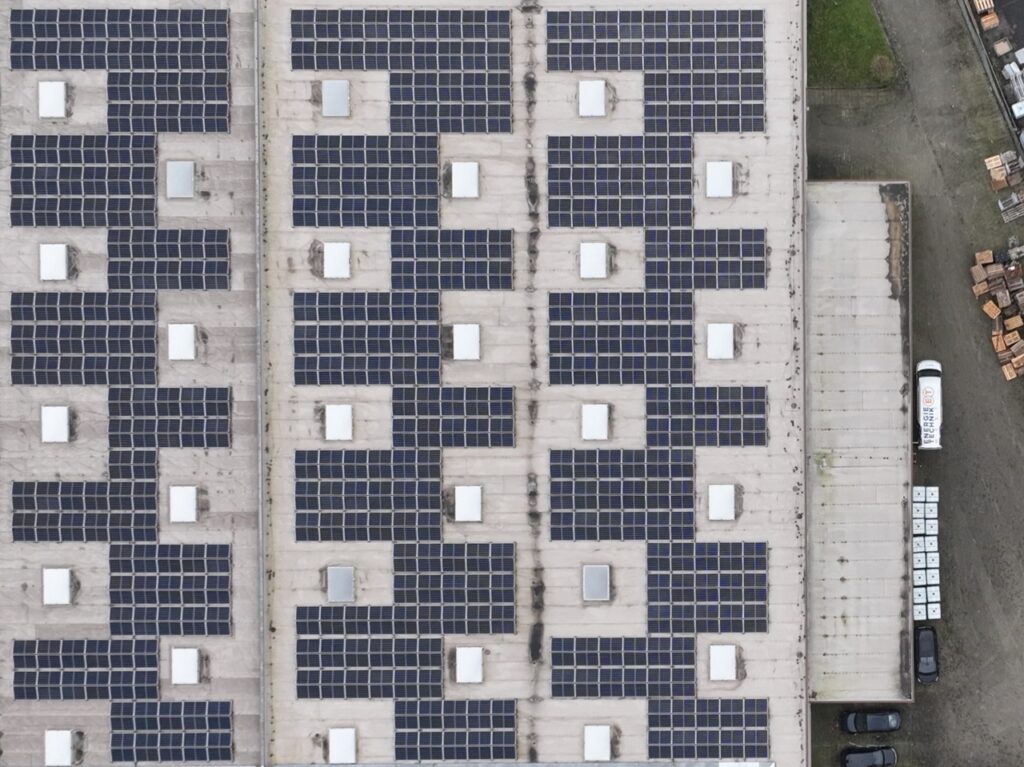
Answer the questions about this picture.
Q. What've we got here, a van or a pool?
van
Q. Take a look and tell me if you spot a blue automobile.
No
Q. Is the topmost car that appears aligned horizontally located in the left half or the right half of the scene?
right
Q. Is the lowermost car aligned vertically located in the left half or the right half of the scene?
right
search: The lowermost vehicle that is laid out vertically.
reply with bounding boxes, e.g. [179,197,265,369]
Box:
[914,625,941,684]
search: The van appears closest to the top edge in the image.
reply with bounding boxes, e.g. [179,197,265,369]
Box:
[914,359,944,451]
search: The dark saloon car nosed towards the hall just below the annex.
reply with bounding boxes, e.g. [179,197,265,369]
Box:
[841,709,902,736]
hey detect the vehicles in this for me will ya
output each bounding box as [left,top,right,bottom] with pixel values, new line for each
[841,709,902,736]
[914,359,944,451]
[914,625,941,684]
[841,745,898,767]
